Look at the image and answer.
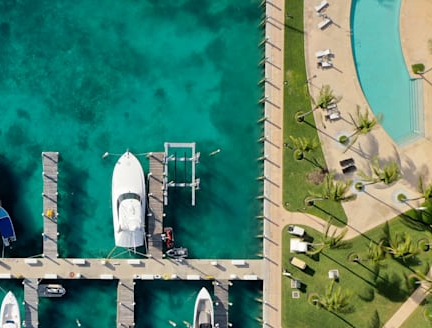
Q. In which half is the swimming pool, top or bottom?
top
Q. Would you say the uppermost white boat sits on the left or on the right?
left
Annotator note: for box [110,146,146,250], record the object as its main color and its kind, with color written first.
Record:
white boat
